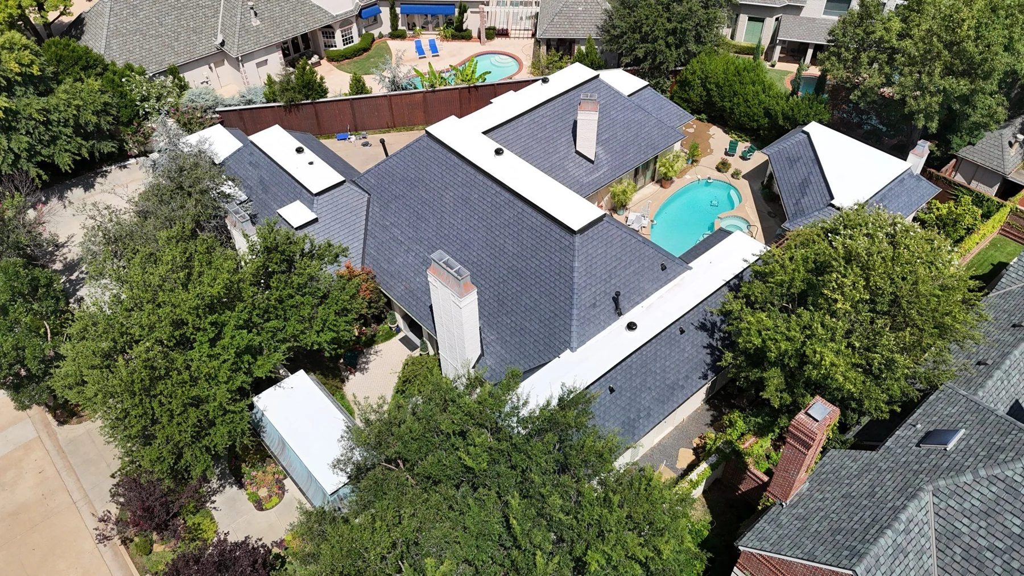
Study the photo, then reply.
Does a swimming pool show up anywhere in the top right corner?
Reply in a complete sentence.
Yes, a swimming pool can be seen in the top right corner.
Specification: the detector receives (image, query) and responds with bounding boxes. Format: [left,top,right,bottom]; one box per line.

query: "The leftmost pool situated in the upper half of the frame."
[394,50,525,96]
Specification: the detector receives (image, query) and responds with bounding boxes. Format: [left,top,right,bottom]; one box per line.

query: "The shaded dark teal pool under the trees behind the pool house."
[786,72,852,116]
